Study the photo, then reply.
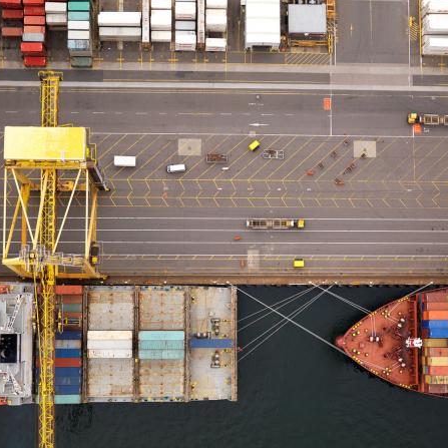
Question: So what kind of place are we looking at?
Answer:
port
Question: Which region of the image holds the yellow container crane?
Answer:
left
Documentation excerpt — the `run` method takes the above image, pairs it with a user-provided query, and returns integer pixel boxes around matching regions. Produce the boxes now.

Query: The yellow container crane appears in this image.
[0,70,118,448]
